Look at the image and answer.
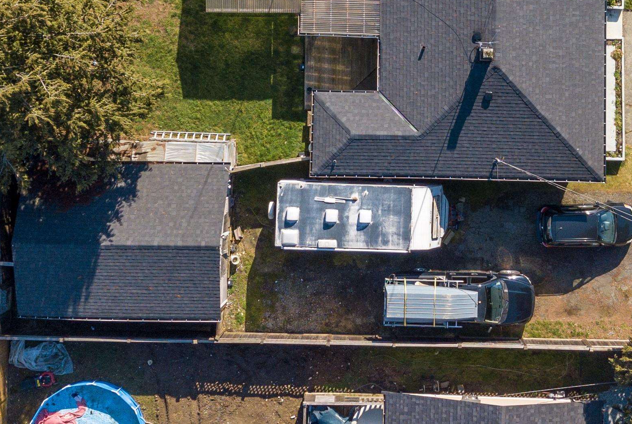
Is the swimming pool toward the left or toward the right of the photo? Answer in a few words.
left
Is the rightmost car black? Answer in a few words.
Yes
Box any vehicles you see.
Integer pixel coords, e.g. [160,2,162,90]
[268,179,451,254]
[537,200,632,251]
[384,272,536,330]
